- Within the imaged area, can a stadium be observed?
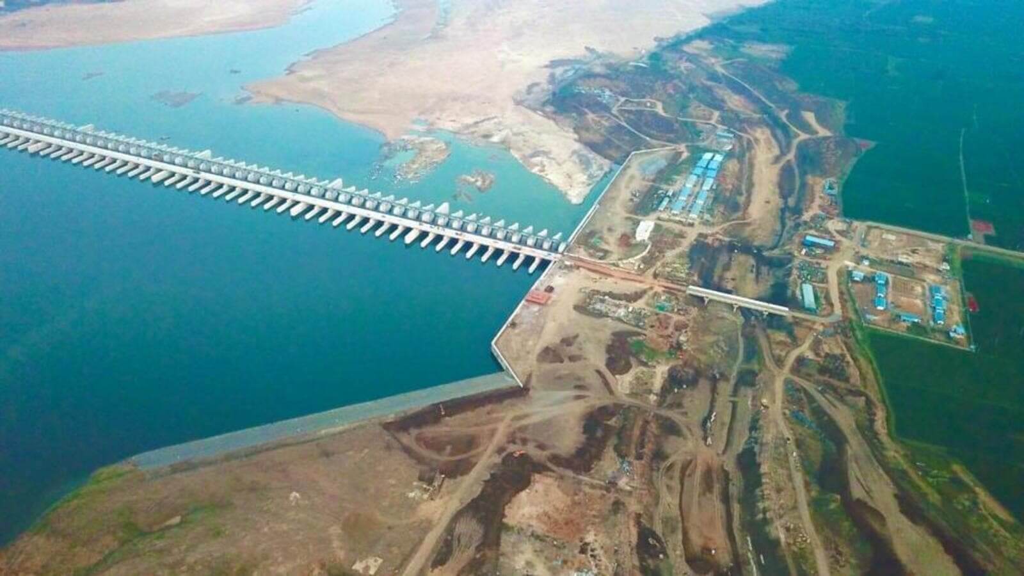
No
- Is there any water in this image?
Yes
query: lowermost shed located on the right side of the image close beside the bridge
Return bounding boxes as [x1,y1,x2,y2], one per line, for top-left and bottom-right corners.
[798,284,820,313]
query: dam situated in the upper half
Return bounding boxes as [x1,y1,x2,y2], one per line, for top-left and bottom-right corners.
[0,109,572,275]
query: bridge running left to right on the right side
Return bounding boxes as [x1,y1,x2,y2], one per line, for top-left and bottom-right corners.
[687,287,790,318]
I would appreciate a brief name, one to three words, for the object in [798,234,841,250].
shed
